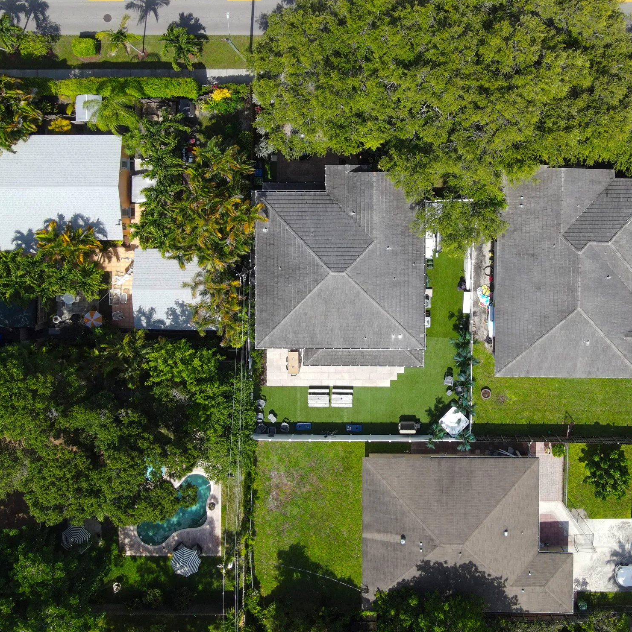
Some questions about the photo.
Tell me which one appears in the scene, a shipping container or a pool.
pool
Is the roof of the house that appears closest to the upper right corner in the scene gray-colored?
Yes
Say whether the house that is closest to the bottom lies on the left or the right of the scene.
right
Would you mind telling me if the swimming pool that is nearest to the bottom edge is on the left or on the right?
left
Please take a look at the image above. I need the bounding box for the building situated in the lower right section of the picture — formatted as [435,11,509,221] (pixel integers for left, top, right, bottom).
[361,452,574,614]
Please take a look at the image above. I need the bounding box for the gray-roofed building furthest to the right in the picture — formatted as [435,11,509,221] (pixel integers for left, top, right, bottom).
[491,168,632,379]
